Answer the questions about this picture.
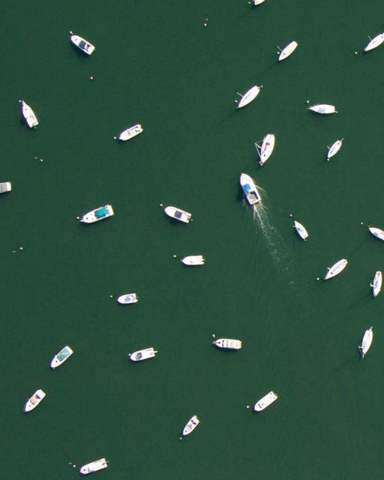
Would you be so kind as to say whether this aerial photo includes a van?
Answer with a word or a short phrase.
No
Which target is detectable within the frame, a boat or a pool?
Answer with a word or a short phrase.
boat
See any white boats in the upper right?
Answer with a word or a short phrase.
Yes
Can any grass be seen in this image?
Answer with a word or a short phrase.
No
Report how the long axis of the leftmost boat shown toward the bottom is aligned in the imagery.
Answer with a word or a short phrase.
on a diagonal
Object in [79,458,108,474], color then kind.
white boat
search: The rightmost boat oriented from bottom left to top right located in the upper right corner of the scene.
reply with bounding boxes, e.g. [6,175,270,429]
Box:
[364,32,384,51]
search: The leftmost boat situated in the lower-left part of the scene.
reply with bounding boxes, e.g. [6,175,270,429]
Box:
[24,388,46,412]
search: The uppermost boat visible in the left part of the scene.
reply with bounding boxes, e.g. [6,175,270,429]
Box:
[72,34,95,54]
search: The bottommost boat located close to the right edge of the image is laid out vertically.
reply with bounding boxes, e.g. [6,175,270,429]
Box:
[360,328,373,360]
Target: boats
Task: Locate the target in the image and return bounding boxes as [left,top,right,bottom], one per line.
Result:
[364,32,384,51]
[373,271,383,296]
[78,204,116,222]
[72,34,95,54]
[164,206,194,223]
[130,348,156,361]
[24,388,46,412]
[237,84,262,108]
[254,390,280,410]
[324,258,348,279]
[360,328,373,360]
[51,345,74,367]
[117,294,142,303]
[278,39,299,61]
[295,221,309,241]
[239,172,259,205]
[183,413,202,435]
[328,137,344,158]
[119,122,143,139]
[309,103,340,113]
[79,458,108,474]
[258,131,277,164]
[21,99,39,127]
[182,256,205,265]
[212,338,242,349]
[370,227,384,239]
